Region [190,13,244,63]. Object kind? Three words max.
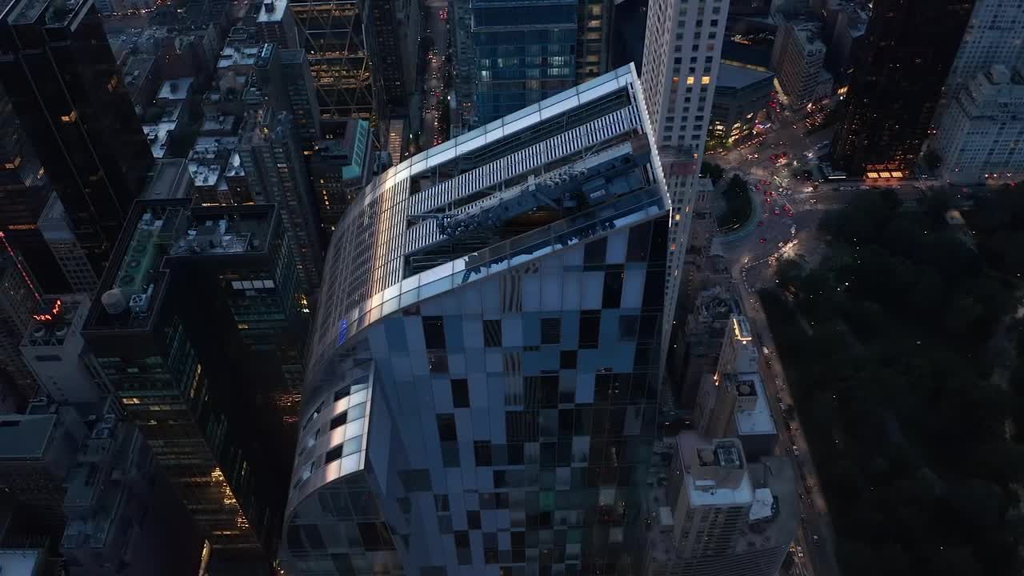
building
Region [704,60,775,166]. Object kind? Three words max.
building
